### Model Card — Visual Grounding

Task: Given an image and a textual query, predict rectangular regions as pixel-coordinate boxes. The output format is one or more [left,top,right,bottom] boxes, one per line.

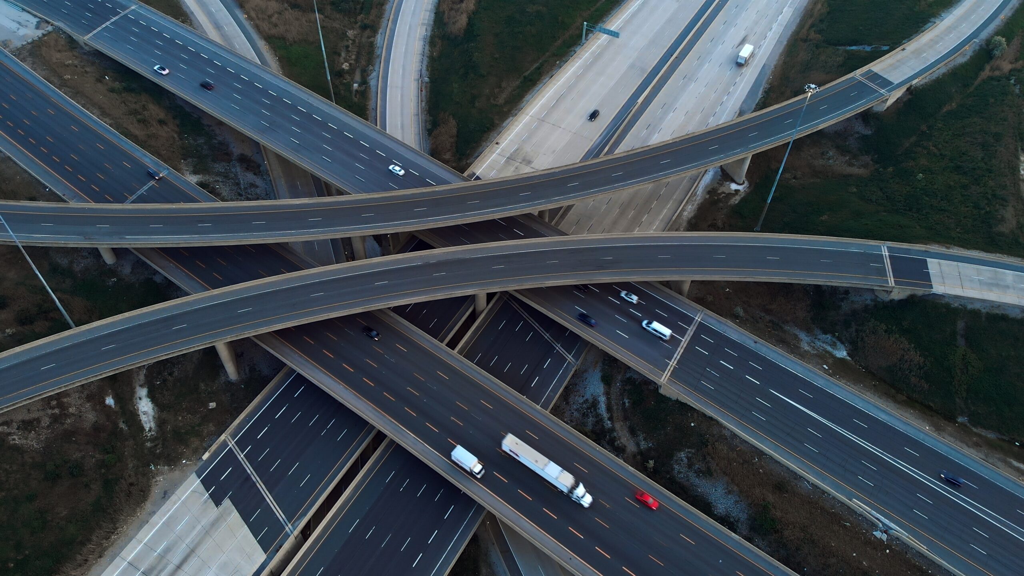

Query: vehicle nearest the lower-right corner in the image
[938,469,967,489]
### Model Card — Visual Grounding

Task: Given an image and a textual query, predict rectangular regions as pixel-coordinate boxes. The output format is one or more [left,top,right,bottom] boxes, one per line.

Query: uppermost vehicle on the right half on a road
[735,45,752,66]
